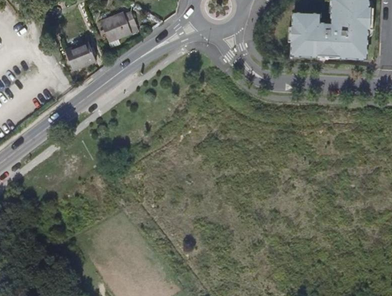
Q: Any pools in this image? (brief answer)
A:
No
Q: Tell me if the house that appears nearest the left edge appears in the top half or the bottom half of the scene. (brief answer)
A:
top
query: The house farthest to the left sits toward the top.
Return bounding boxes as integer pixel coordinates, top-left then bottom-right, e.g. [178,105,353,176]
[70,44,98,72]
